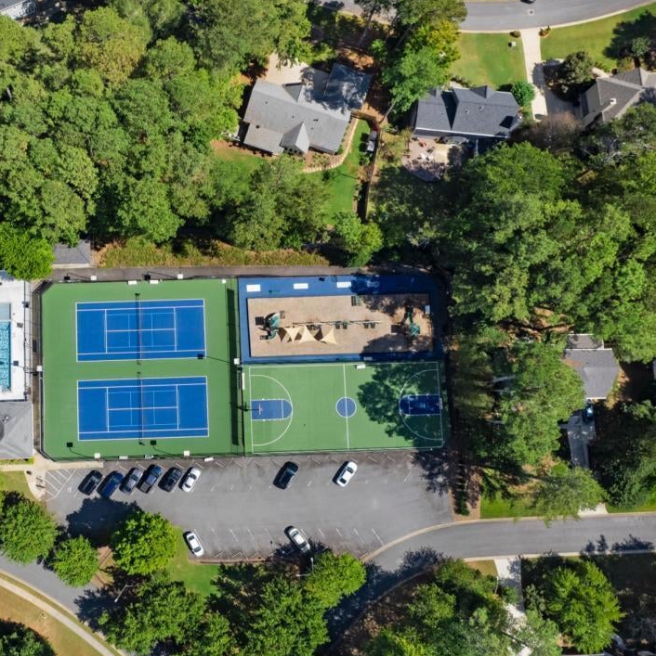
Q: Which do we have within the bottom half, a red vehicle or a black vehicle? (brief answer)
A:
black vehicle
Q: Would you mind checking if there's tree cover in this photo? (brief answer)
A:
Yes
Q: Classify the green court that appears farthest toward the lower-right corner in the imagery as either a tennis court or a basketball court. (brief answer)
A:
basketball court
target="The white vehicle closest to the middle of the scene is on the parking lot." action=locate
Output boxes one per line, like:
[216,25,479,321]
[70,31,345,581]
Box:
[336,460,356,488]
